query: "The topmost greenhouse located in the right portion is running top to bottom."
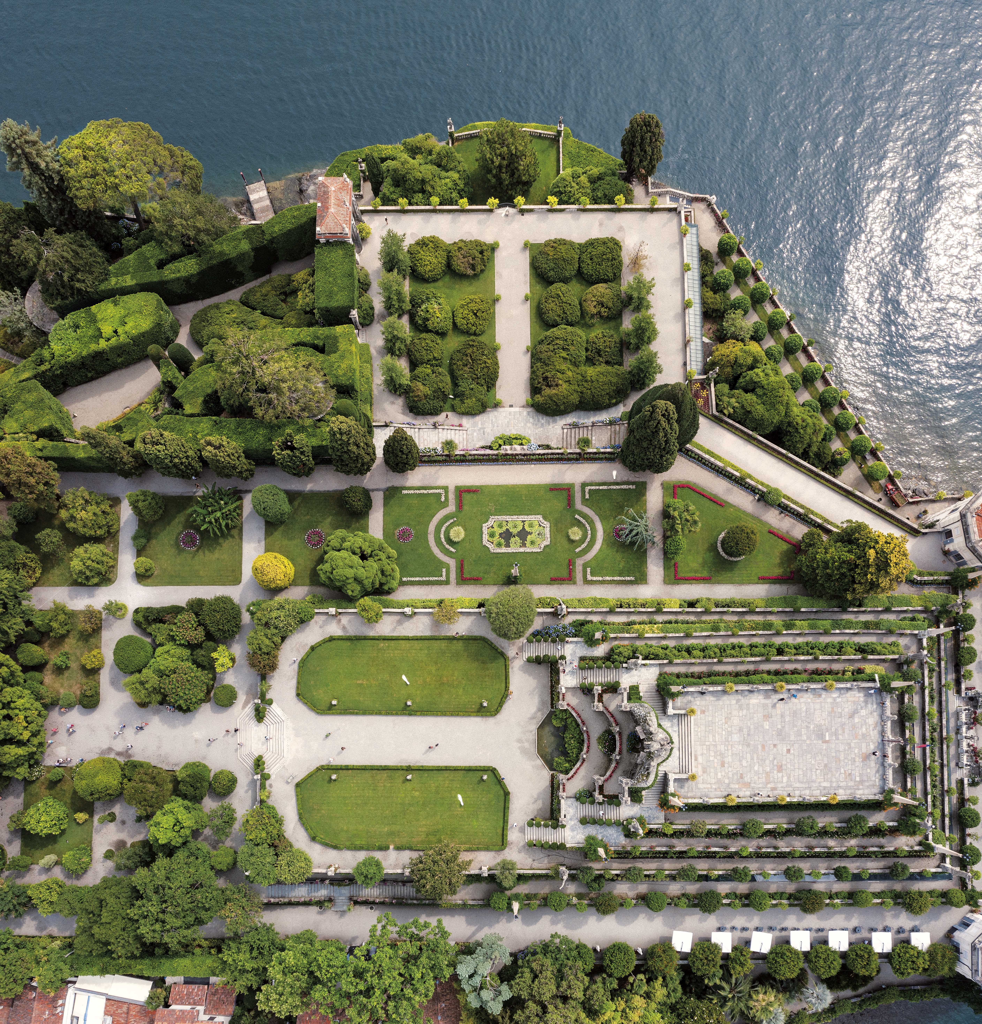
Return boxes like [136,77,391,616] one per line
[685,223,704,375]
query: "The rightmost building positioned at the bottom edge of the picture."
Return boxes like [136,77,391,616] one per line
[945,904,982,990]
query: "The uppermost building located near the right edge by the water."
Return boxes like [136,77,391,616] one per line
[927,487,982,576]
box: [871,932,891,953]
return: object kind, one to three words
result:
umbrella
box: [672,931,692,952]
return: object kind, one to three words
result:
umbrella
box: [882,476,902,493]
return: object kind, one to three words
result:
work vehicle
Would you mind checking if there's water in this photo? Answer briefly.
Yes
